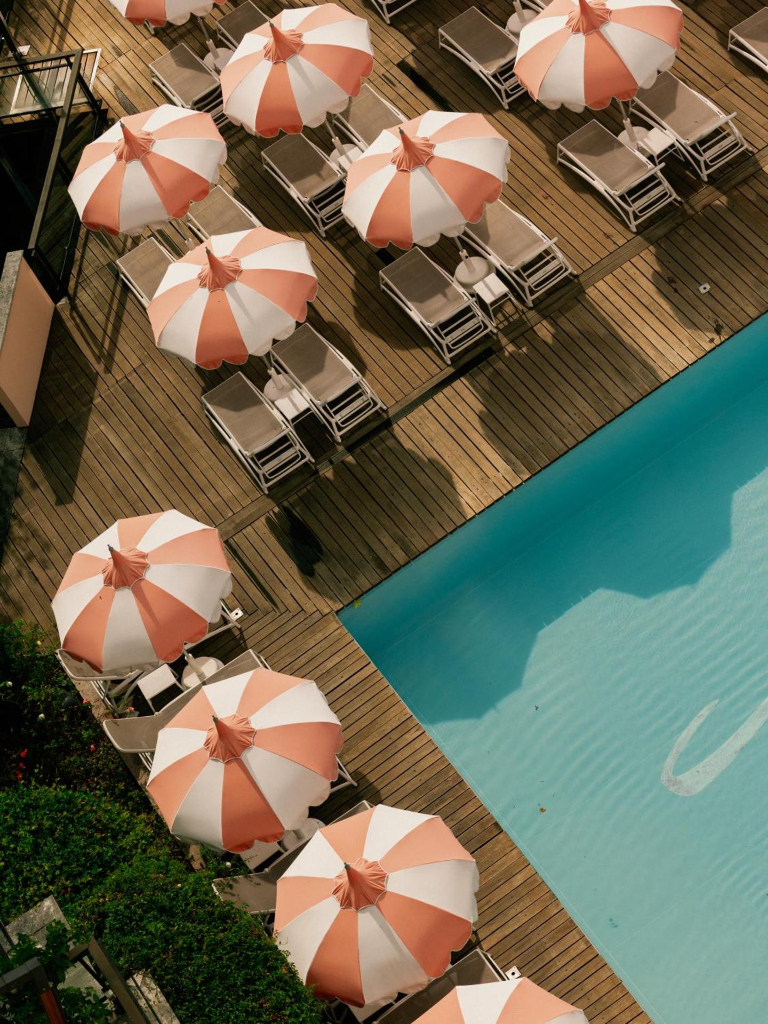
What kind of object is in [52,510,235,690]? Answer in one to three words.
umbrella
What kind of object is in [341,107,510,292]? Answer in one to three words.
umbrella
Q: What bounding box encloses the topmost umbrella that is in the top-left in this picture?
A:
[110,0,233,77]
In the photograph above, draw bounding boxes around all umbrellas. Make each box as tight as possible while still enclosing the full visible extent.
[110,0,233,77]
[508,0,536,40]
[52,510,235,690]
[219,3,377,178]
[512,0,683,159]
[66,100,227,251]
[147,667,344,856]
[146,224,318,410]
[271,802,478,1008]
[413,979,586,1024]
[341,107,510,292]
